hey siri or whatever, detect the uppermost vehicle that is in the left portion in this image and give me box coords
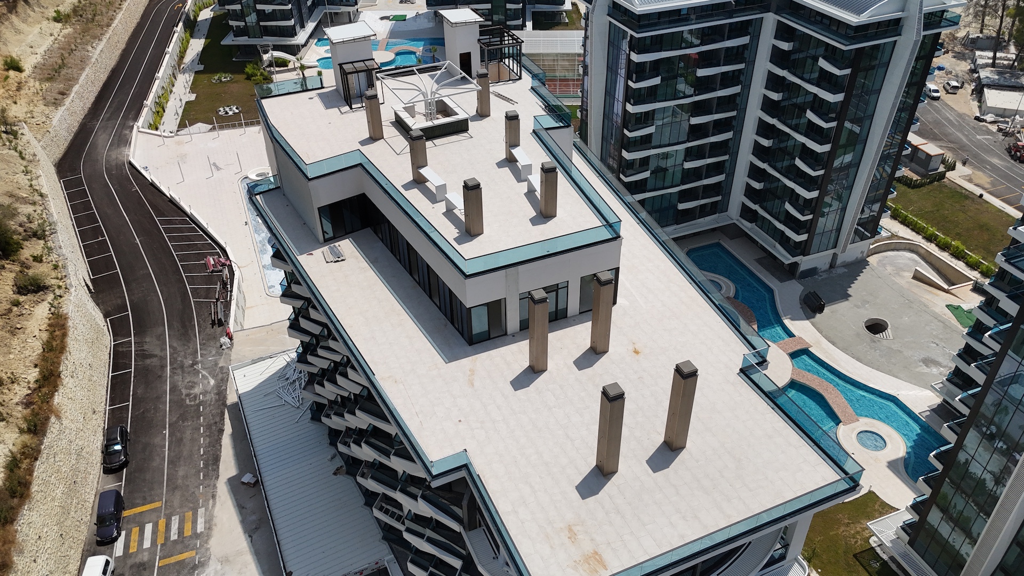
[98,423,129,471]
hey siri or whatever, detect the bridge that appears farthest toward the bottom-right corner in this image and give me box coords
[790,367,857,425]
